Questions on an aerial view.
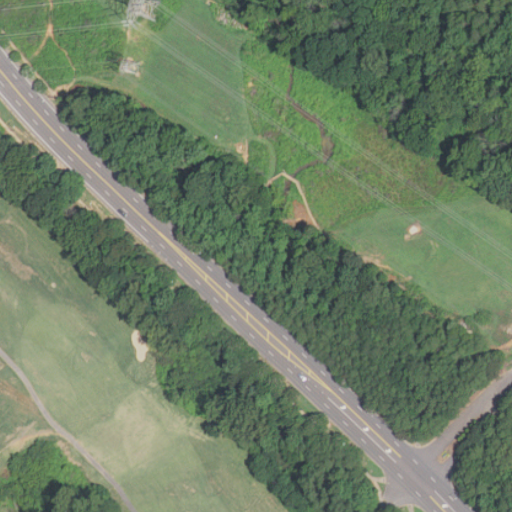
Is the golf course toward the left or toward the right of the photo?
left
